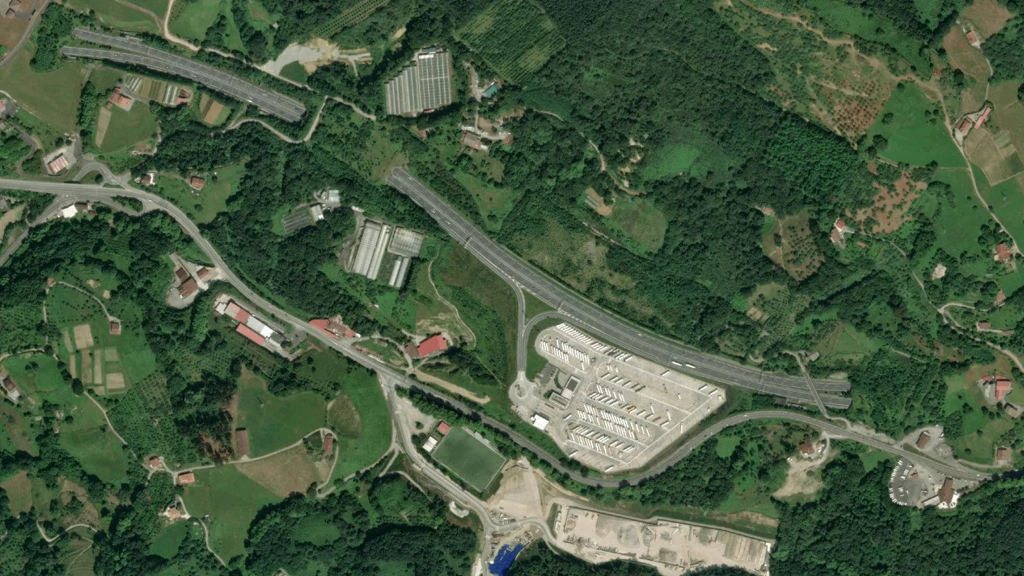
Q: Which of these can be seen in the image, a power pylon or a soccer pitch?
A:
soccer pitch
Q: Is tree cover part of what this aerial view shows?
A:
Yes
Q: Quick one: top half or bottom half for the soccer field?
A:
bottom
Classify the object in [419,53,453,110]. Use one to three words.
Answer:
greenhouse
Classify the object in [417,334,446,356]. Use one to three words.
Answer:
barn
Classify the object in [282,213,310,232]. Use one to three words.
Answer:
house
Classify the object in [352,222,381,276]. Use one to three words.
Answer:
greenhouse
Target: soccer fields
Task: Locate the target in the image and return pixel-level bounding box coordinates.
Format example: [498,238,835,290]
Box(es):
[431,426,506,490]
